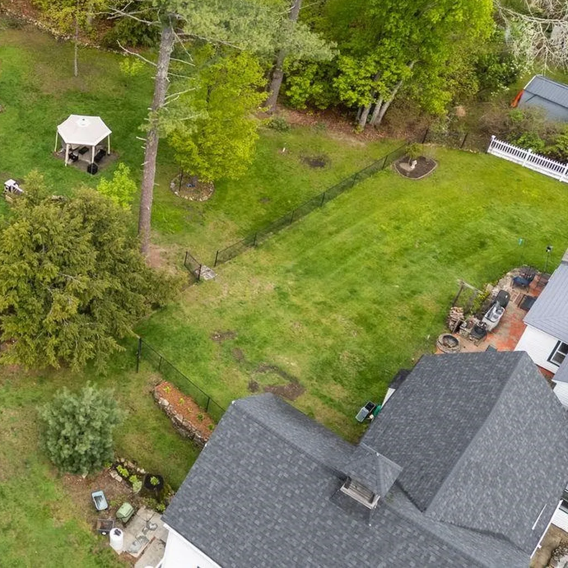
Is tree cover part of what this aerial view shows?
Yes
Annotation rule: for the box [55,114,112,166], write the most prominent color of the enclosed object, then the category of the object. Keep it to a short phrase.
white gazebo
